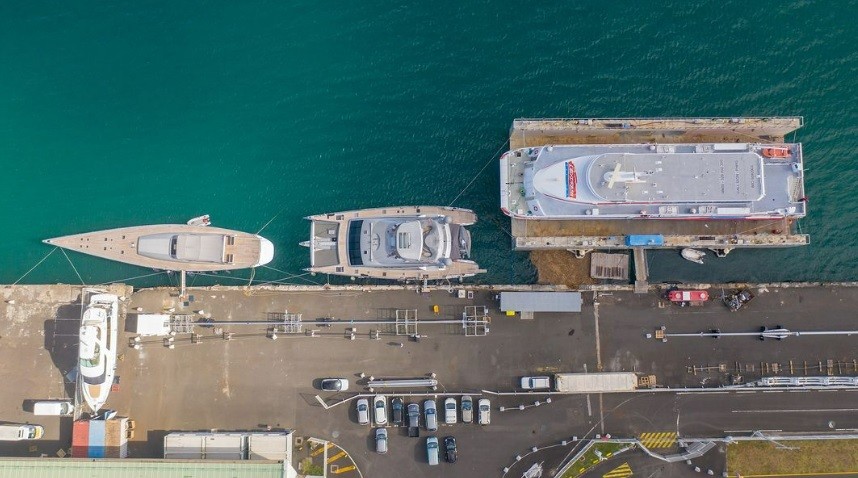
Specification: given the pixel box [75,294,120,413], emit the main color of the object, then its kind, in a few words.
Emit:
white boat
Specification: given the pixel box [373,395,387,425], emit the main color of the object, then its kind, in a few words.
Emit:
white car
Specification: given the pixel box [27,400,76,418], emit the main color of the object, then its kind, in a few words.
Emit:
white vehicle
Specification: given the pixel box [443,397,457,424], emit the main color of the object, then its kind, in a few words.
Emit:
white vehicle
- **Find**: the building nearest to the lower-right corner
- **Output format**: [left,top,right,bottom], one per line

[496,292,583,312]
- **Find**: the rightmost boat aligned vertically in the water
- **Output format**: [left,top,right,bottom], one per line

[457,226,471,259]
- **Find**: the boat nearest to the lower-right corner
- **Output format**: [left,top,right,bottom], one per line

[682,248,708,265]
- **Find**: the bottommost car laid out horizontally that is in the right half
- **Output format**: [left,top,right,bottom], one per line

[520,377,550,391]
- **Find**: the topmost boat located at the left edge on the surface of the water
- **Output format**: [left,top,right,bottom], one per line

[41,224,274,275]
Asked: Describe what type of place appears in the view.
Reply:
port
